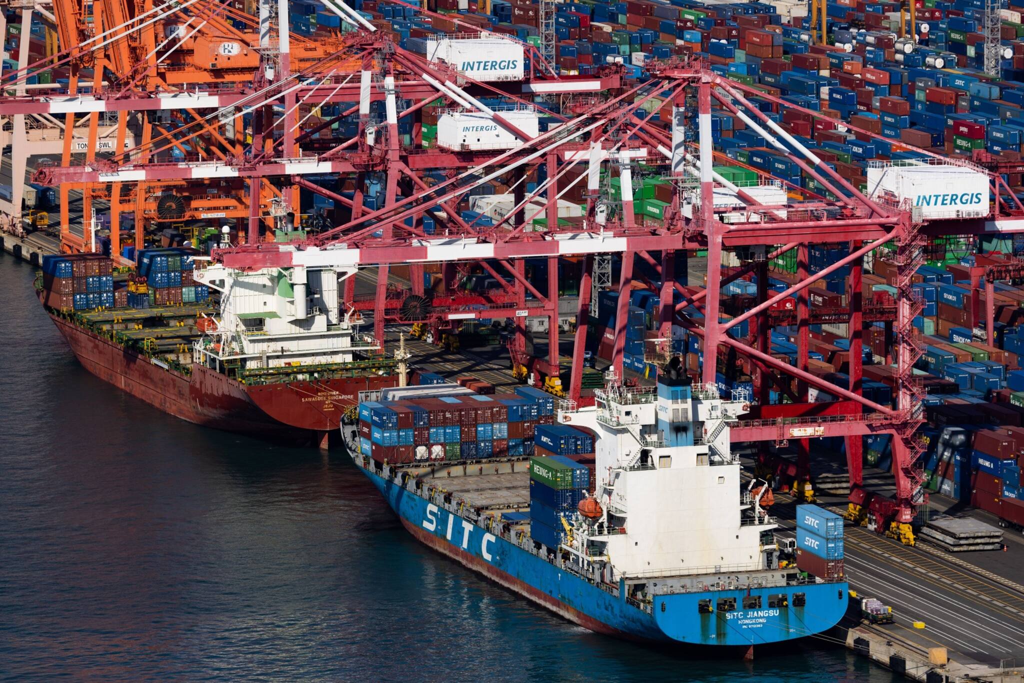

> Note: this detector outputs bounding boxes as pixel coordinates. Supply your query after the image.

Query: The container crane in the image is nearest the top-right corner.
[929,149,1024,182]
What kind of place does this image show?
port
